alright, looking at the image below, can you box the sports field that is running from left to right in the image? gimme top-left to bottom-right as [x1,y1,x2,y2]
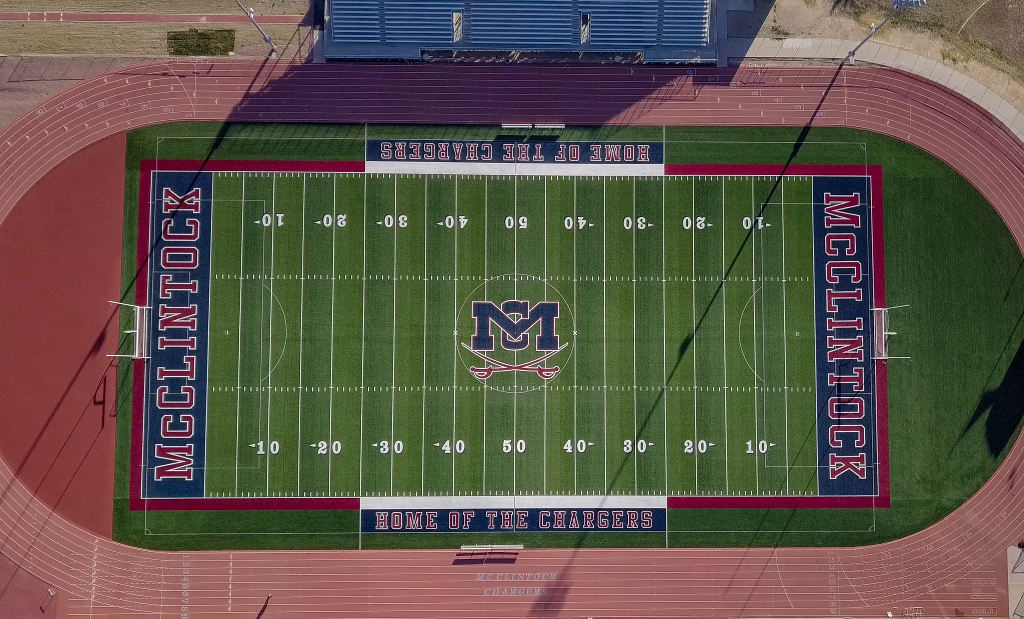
[112,121,1024,550]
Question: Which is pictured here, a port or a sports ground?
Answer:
sports ground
